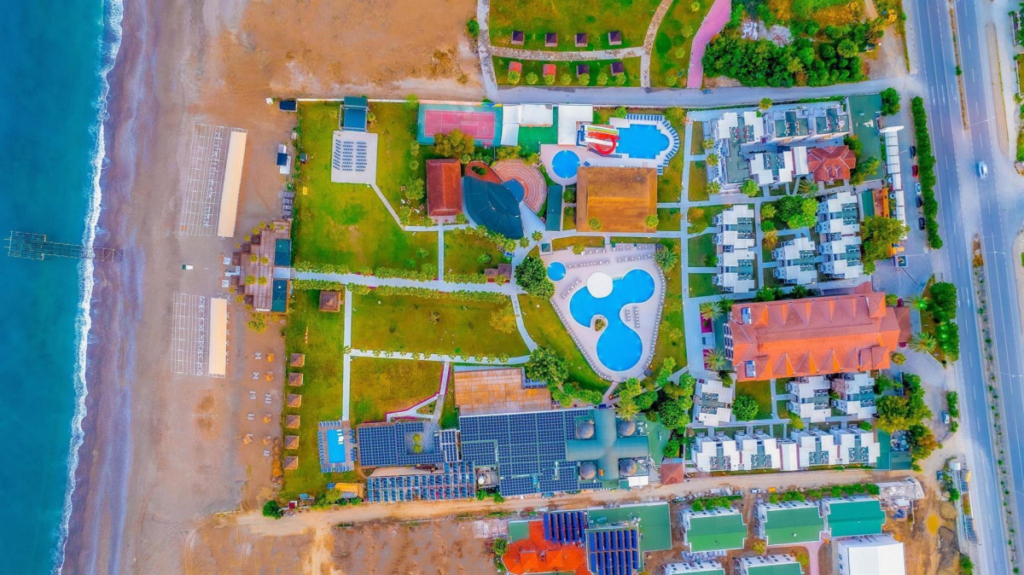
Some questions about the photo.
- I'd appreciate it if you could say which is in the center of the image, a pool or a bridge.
pool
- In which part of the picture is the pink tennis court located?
top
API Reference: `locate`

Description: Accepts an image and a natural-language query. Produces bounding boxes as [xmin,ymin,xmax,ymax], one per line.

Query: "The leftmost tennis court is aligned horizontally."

[417,104,502,147]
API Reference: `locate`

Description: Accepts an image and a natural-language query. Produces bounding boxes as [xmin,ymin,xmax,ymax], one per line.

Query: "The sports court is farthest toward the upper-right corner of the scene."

[517,107,558,145]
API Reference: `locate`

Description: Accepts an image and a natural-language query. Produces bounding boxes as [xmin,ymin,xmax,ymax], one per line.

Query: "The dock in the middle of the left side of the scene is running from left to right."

[4,231,123,263]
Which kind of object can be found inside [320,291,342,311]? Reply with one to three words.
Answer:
gazebo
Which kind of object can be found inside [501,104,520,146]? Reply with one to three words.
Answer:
building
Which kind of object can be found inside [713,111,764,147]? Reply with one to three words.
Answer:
house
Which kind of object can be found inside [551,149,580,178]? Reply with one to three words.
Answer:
swimming pool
